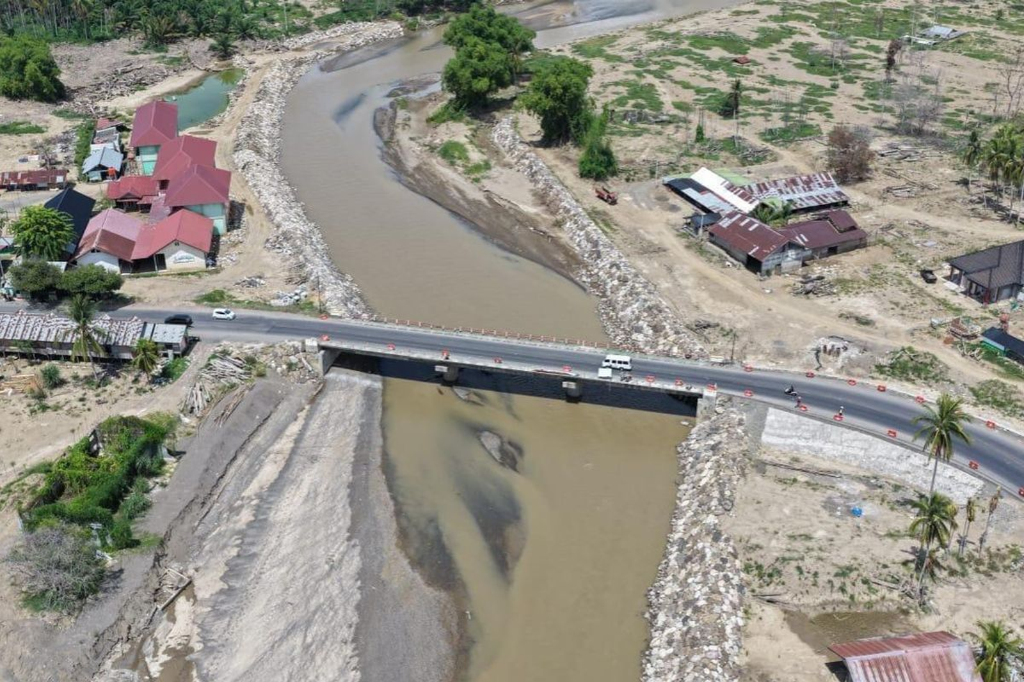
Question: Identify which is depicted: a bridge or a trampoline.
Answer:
bridge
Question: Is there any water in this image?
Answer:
Yes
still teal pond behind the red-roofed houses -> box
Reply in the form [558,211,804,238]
[178,70,245,131]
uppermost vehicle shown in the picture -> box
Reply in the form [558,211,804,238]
[594,189,620,206]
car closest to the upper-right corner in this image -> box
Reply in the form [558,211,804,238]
[918,269,941,284]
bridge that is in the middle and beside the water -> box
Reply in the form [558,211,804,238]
[296,313,724,415]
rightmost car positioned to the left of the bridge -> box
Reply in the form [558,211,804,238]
[208,307,238,322]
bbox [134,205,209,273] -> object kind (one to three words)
house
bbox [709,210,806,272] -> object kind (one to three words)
barn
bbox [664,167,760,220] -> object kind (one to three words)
shed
